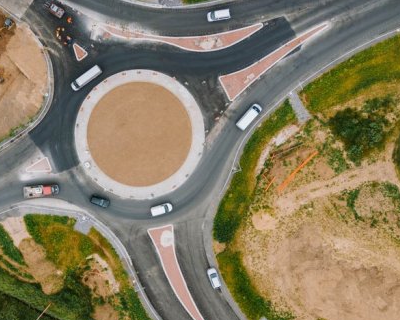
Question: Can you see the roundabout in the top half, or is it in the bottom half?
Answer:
top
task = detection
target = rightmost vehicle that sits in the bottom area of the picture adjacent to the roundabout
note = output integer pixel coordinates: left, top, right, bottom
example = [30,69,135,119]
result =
[150,202,173,216]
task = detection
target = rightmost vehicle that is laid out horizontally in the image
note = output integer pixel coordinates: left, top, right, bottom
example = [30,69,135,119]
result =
[205,8,231,23]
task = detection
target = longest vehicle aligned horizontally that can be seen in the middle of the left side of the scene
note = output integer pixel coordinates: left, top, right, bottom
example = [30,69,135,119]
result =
[23,183,59,198]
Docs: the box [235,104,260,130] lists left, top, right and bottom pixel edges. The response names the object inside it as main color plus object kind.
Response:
white vehicle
